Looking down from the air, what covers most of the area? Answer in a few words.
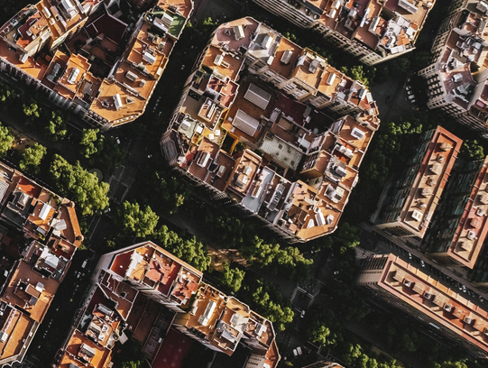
buildings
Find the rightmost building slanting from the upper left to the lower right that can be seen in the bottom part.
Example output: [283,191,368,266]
[354,253,488,362]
